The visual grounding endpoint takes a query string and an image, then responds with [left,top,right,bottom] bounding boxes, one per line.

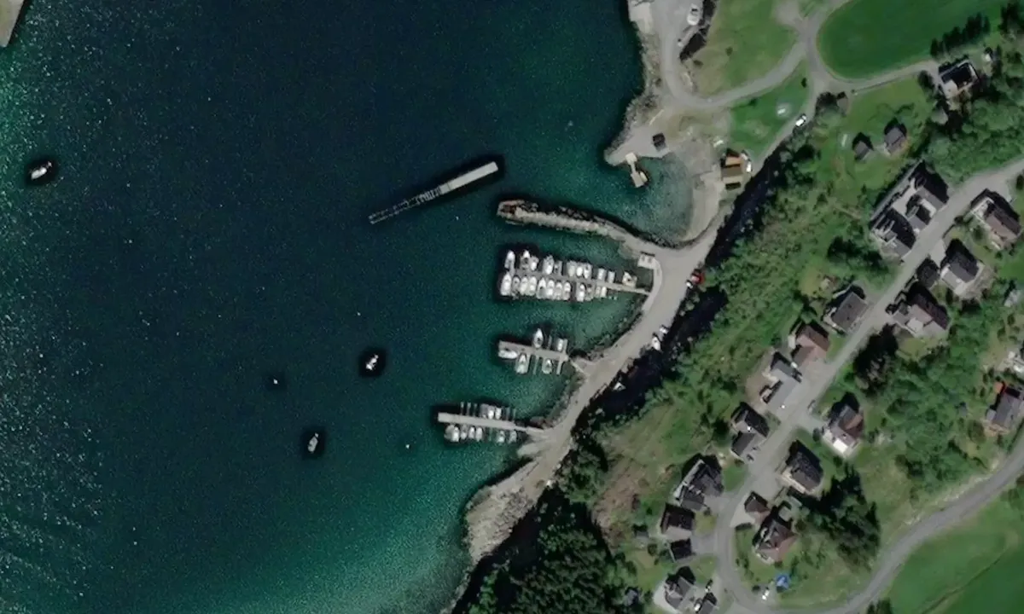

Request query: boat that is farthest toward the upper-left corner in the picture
[30,168,46,180]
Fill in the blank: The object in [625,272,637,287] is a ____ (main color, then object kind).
white boat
